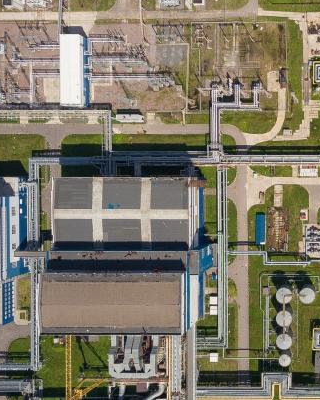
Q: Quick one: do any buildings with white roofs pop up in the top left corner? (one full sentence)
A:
Yes, there is a building with a white roof in the top left corner.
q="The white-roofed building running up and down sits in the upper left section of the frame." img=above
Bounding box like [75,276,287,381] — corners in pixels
[60,34,91,108]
